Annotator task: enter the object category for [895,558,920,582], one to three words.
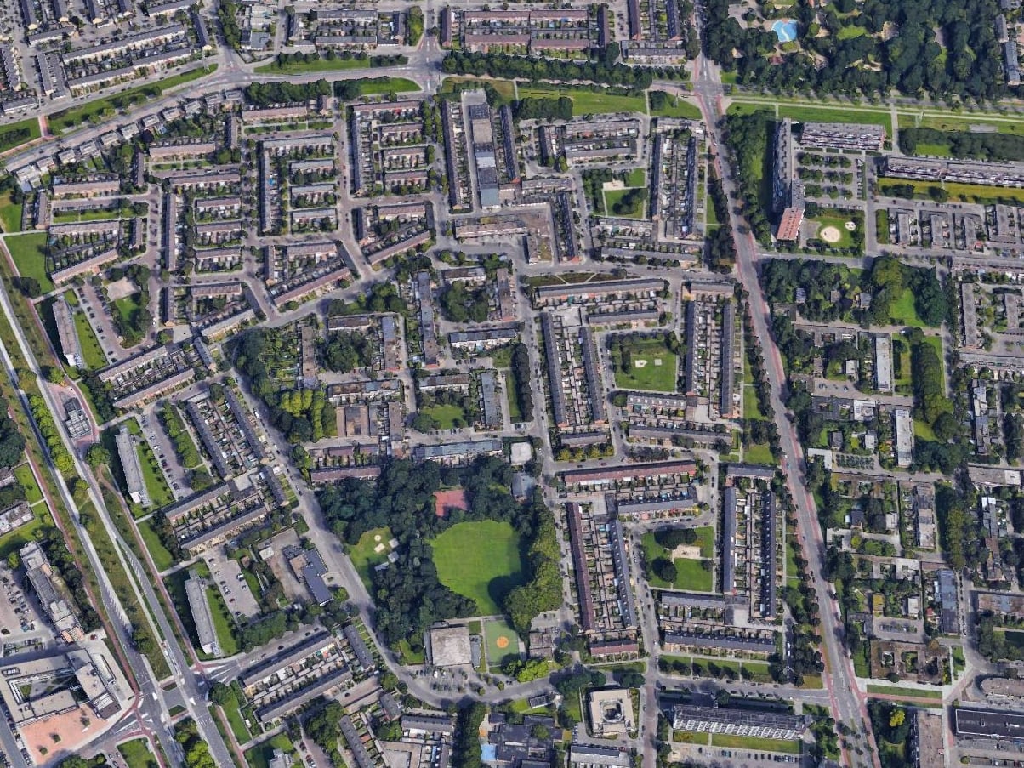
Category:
house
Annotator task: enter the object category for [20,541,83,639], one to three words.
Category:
building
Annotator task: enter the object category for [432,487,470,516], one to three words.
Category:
sports court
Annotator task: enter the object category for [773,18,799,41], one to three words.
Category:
swimming pool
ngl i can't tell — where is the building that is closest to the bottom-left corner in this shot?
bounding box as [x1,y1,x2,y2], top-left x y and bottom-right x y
[0,649,124,725]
